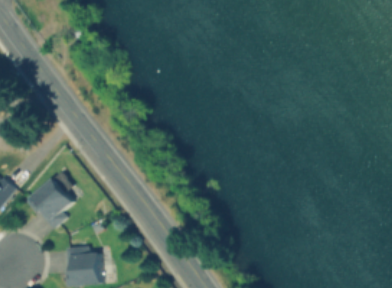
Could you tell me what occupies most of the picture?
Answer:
water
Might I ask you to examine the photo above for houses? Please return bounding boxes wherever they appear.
[64,246,106,288]
[28,168,74,230]
[0,174,16,207]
